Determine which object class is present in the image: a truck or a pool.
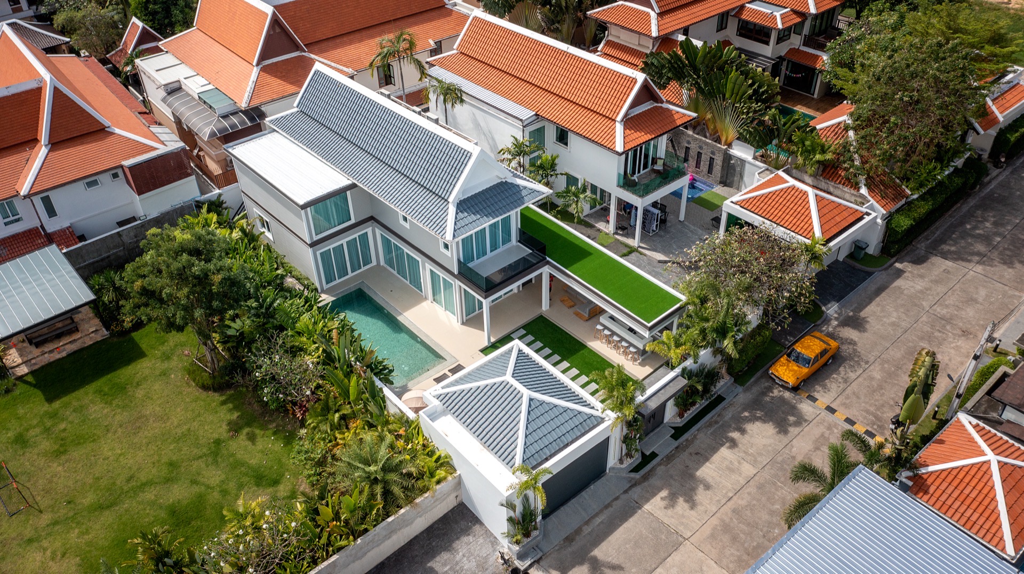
pool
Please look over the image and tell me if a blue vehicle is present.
No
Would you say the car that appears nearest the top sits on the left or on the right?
right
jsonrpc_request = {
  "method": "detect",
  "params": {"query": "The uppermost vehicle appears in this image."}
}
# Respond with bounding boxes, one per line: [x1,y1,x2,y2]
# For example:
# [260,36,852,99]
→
[766,332,839,393]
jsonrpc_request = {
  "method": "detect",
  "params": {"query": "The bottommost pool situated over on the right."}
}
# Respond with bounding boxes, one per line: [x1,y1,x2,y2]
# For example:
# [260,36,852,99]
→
[674,172,718,205]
